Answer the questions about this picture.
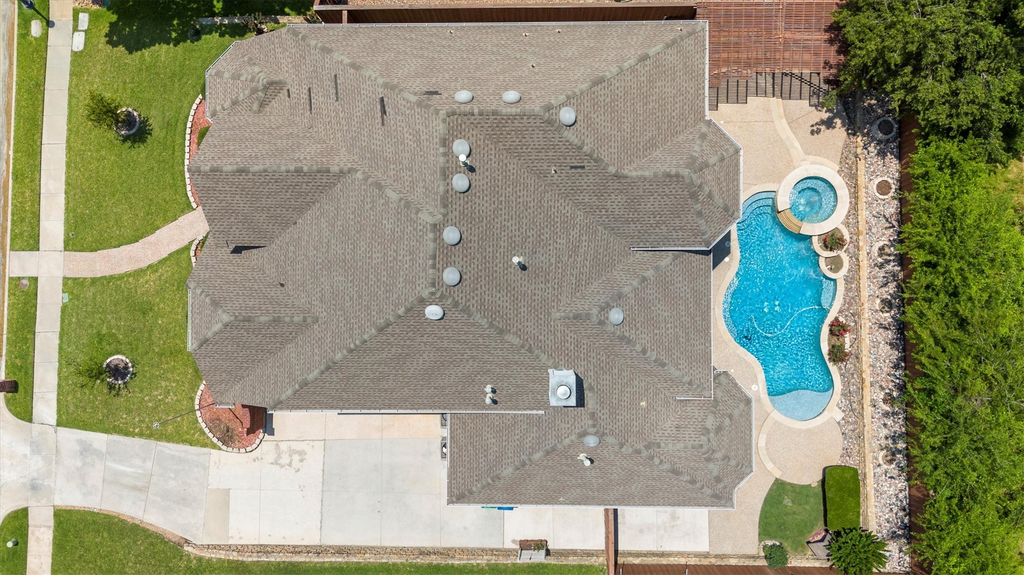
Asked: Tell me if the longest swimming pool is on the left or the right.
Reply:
right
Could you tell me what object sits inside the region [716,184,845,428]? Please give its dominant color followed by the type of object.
blue swimming pool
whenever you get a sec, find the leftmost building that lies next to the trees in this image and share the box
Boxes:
[188,20,754,508]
